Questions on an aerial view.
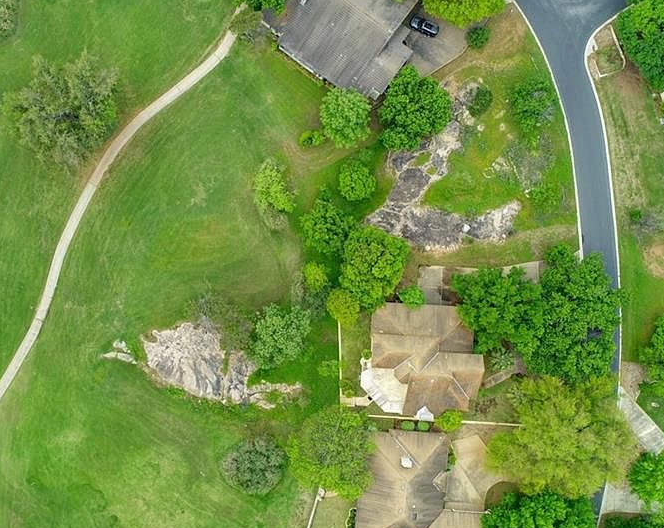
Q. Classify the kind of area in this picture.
golf course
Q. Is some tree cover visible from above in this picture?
Yes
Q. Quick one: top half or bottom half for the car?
top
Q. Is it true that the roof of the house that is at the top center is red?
No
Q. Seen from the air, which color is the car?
black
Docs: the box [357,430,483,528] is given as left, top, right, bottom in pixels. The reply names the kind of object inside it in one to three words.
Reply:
house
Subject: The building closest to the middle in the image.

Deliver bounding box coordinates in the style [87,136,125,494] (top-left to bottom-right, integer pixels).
[372,303,484,421]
